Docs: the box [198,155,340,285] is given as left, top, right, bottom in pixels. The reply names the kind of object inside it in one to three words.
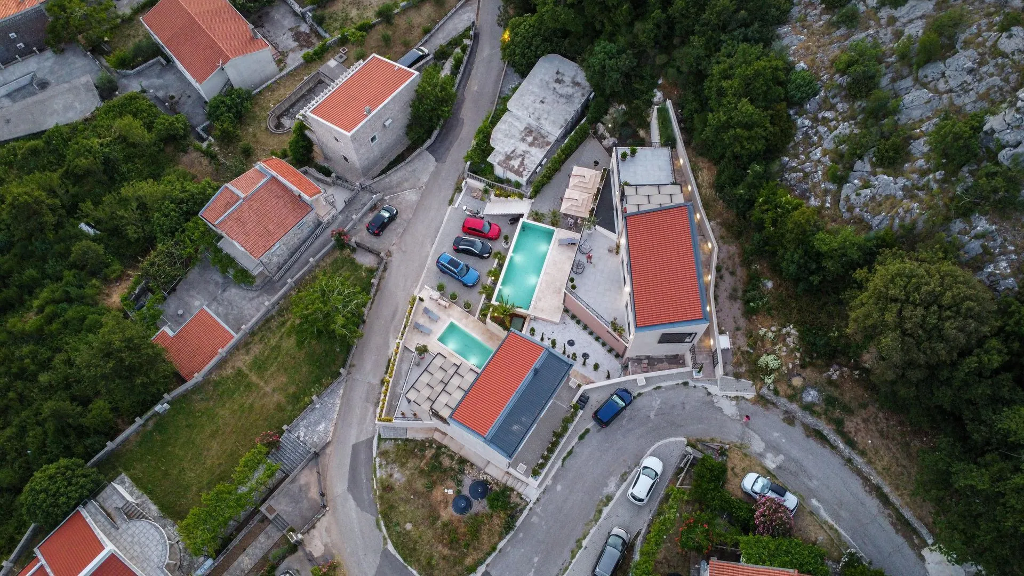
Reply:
house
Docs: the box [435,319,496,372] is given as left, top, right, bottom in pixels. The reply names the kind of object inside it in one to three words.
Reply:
swimming pool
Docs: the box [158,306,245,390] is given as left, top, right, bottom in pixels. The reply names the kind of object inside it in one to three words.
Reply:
shed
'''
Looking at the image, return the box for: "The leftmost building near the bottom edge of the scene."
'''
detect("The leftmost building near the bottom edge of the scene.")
[15,504,154,576]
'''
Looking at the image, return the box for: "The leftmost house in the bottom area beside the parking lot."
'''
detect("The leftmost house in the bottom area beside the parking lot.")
[448,329,575,467]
